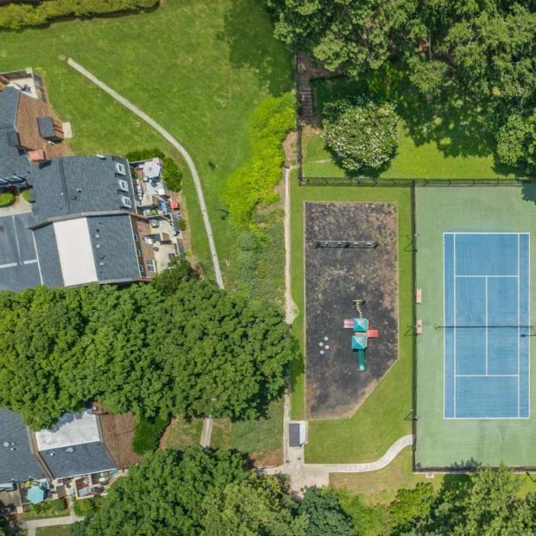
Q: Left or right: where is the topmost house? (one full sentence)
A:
The topmost house sits on the left side.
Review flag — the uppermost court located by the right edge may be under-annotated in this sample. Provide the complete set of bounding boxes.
[417,186,536,465]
